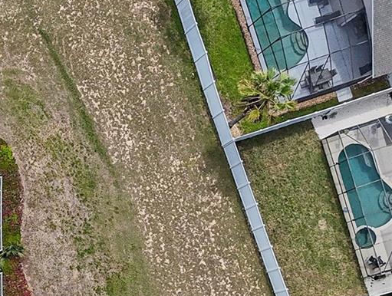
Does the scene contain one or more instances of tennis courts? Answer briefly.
No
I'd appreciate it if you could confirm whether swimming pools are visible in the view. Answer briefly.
Yes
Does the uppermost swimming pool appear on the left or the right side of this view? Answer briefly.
right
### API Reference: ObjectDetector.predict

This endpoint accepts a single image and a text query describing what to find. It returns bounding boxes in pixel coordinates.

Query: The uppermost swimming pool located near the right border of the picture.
[339,141,392,231]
